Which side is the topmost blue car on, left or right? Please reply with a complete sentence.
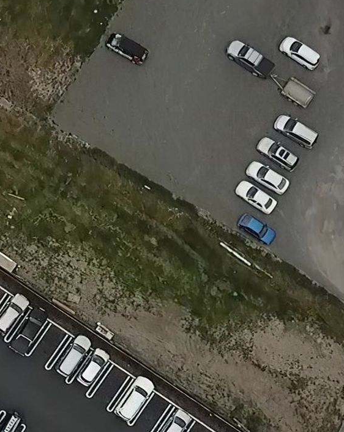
The topmost blue car appears in the right half of the scene.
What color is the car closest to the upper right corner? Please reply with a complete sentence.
From above, the car closest to the upper right corner appears white.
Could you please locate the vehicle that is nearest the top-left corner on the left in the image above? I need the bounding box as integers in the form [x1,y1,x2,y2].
[103,34,151,68]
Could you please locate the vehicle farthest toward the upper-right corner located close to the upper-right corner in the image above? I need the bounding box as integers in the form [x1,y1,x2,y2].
[275,38,322,73]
